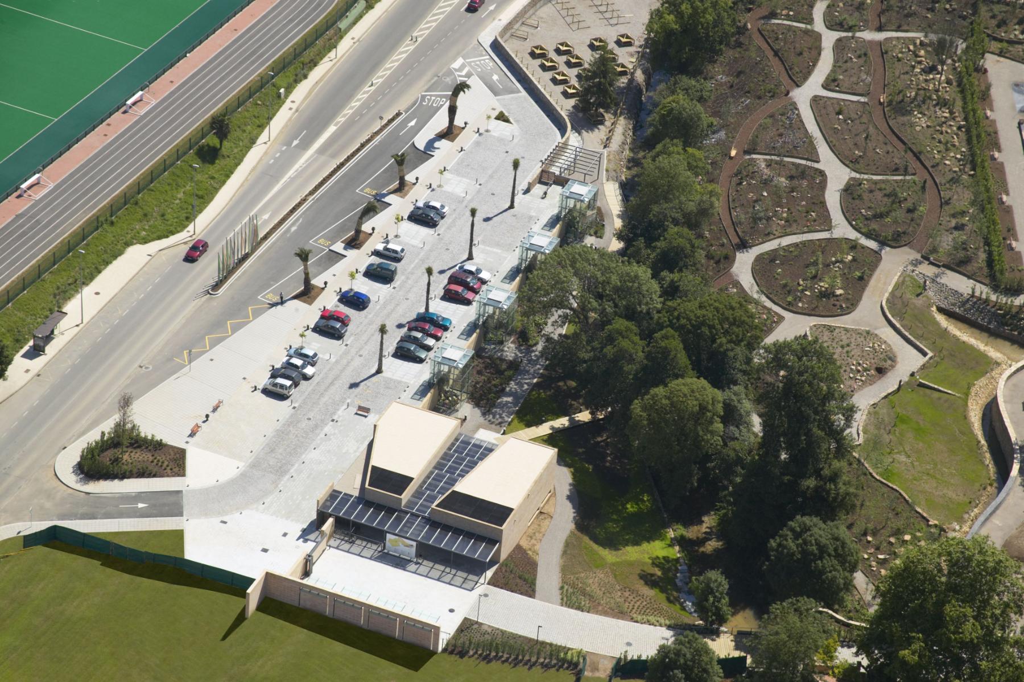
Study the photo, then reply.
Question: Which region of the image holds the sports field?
top left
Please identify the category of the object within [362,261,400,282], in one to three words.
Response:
car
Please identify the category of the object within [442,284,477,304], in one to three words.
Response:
car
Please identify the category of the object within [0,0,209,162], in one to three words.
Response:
sports field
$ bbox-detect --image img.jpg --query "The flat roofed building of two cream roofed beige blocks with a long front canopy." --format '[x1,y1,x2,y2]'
[316,400,557,584]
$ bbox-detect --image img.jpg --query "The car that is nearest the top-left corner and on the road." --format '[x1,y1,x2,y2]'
[184,237,210,260]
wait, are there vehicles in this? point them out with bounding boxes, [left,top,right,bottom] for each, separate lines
[465,0,487,10]
[311,319,350,339]
[398,330,438,351]
[406,209,443,227]
[337,292,373,310]
[445,269,484,293]
[373,243,407,262]
[415,312,453,332]
[413,202,450,219]
[285,347,321,366]
[393,340,429,362]
[457,265,493,284]
[279,358,319,379]
[260,378,297,399]
[406,321,445,341]
[362,261,400,282]
[318,309,353,327]
[184,237,210,260]
[266,367,306,387]
[442,284,477,304]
